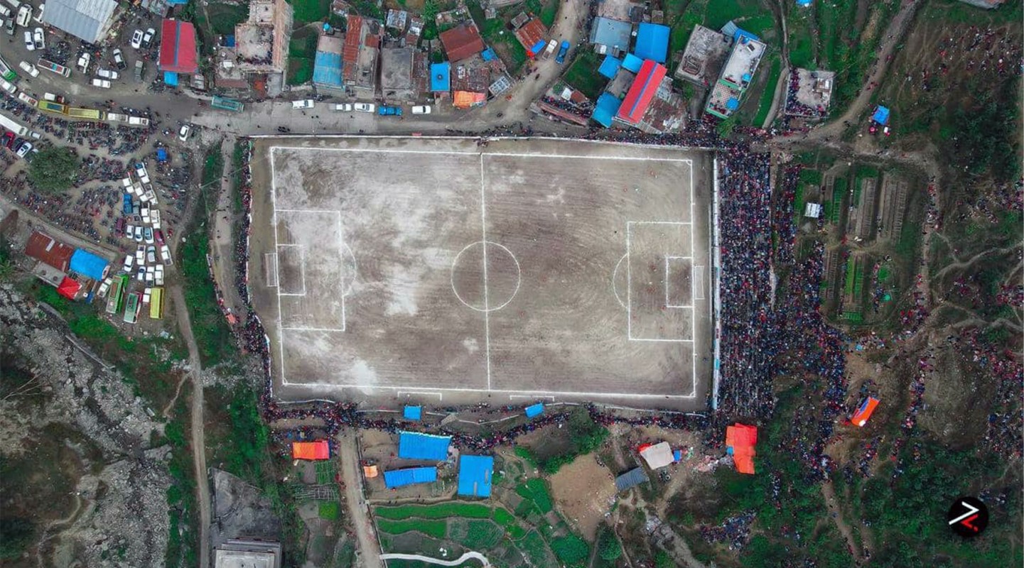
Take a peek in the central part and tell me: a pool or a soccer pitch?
soccer pitch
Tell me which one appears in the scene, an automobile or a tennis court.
automobile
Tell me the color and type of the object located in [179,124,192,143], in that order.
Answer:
white vehicle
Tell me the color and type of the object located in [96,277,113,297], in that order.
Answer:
white car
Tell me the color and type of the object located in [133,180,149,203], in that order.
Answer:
white vehicle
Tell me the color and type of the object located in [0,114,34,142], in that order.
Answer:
white bus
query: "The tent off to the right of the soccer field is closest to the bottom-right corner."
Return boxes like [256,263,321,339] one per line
[846,395,879,427]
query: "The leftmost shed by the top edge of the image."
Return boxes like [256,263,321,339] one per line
[42,0,124,45]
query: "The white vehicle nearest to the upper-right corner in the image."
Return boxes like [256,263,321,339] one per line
[542,38,558,61]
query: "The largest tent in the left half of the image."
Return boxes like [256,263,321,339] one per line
[292,438,332,459]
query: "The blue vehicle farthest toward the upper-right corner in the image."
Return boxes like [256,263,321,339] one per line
[555,40,569,65]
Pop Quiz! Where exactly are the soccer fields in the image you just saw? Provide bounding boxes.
[249,138,712,412]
